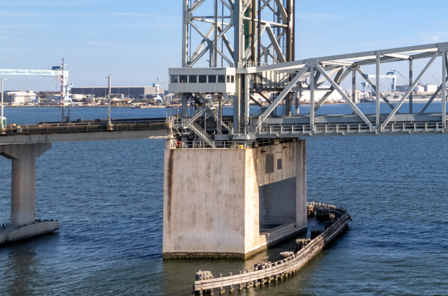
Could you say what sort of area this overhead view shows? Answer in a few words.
port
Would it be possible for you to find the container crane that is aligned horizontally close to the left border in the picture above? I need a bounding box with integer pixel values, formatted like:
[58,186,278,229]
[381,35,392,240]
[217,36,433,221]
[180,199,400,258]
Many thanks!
[0,67,69,94]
